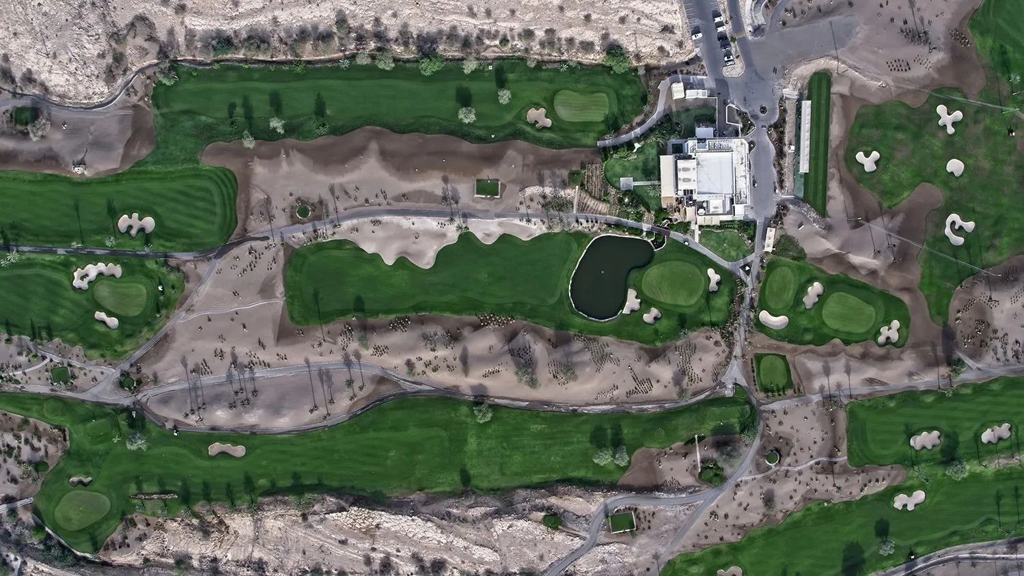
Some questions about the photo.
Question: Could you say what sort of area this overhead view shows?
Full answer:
This image shows a golf course.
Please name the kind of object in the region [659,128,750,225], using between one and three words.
building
